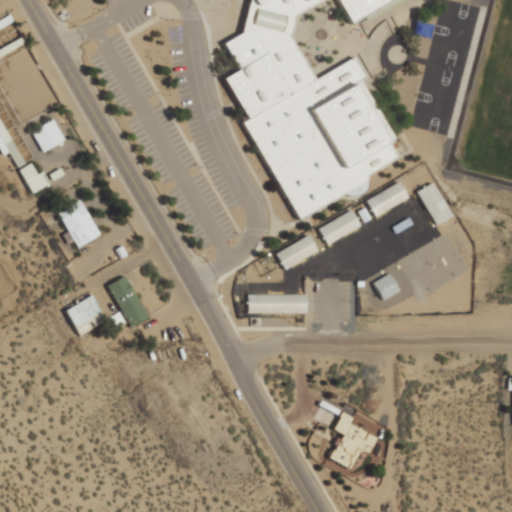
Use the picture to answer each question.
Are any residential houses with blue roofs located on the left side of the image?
No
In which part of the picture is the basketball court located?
top right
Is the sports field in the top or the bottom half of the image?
top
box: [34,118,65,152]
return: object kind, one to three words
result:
house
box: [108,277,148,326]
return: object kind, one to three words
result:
building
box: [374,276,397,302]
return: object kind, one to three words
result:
shed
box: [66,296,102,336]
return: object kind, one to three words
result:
house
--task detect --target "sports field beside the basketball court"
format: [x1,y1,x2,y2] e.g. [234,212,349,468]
[464,0,512,180]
